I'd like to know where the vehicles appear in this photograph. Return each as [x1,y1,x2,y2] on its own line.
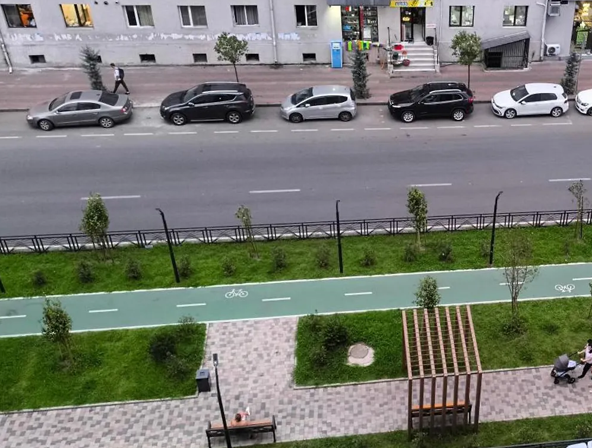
[490,81,572,119]
[572,87,592,116]
[387,79,477,122]
[279,83,357,122]
[158,80,255,126]
[22,88,132,130]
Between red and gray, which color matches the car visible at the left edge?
gray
